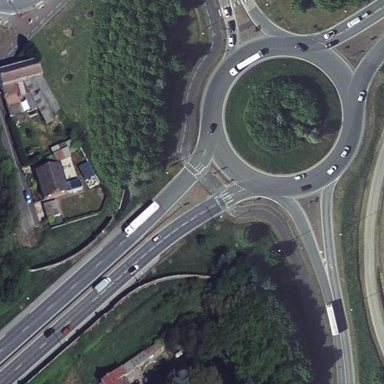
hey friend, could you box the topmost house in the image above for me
[0,56,43,84]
